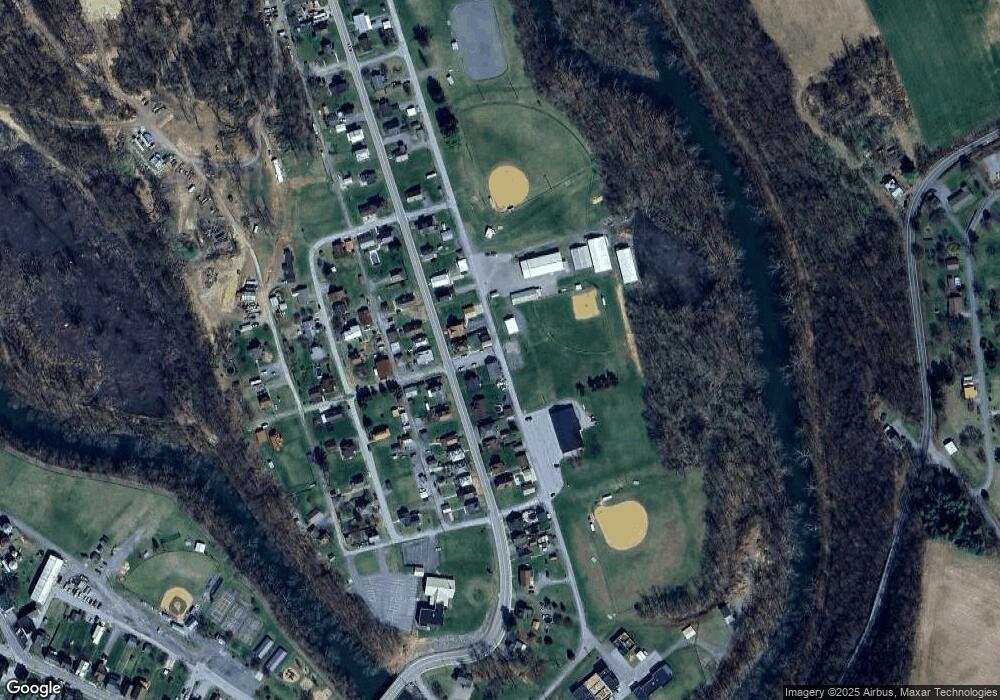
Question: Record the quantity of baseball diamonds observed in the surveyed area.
4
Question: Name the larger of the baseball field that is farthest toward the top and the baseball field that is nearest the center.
the baseball field that is farthest toward the top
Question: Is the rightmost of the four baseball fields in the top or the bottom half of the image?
bottom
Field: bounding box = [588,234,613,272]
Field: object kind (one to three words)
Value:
barn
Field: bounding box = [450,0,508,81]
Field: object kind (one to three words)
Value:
sports court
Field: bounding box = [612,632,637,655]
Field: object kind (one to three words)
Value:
building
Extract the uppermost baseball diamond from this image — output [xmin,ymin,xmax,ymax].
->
[462,103,593,215]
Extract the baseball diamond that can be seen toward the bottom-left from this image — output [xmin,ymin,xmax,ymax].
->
[122,551,220,625]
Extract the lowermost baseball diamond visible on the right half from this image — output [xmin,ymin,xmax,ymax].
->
[588,474,702,604]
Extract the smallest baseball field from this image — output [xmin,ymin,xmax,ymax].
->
[549,287,612,351]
